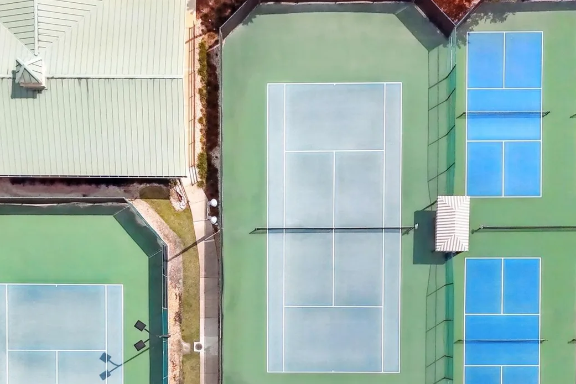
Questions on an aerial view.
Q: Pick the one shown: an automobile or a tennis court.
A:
tennis court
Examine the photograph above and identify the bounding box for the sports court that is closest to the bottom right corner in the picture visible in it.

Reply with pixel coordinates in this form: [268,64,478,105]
[465,257,540,384]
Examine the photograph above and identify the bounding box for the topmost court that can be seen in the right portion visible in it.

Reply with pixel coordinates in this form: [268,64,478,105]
[467,31,544,196]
